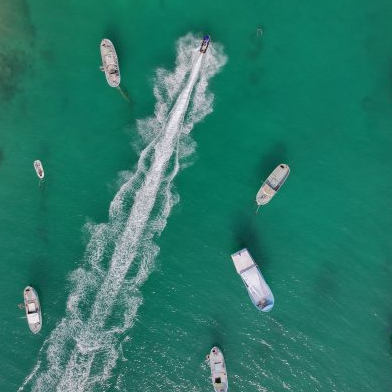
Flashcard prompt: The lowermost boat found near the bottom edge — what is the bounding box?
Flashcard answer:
[207,345,228,392]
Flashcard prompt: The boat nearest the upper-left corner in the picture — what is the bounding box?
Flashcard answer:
[99,38,130,104]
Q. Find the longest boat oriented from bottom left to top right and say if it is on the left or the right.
right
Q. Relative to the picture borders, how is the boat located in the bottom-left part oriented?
up and down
